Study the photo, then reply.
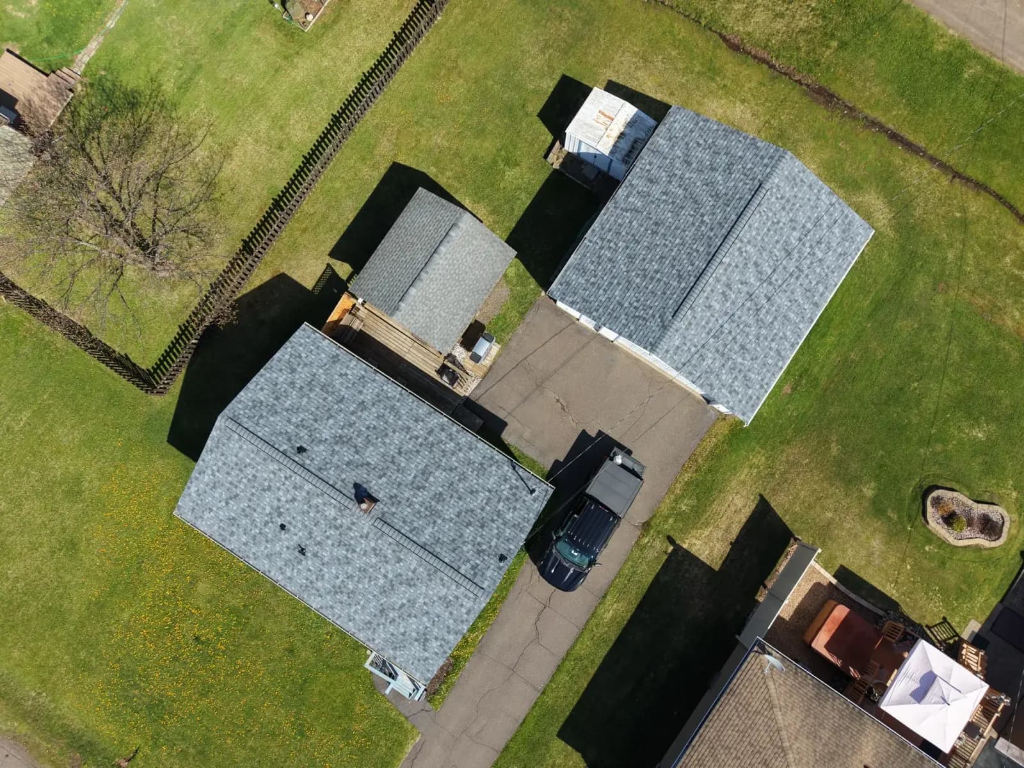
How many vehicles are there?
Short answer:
1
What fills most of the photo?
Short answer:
grass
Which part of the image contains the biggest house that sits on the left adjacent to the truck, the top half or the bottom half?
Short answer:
bottom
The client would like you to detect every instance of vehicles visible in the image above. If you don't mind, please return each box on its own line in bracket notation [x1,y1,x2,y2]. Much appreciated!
[543,447,650,595]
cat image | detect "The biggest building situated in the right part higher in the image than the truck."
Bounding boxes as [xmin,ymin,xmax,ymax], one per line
[545,102,873,426]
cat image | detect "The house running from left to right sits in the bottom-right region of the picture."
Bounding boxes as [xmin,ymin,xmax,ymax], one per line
[636,624,957,768]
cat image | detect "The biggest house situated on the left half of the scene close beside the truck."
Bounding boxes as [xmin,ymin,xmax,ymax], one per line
[176,321,556,684]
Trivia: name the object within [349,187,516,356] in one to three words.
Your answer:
shed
